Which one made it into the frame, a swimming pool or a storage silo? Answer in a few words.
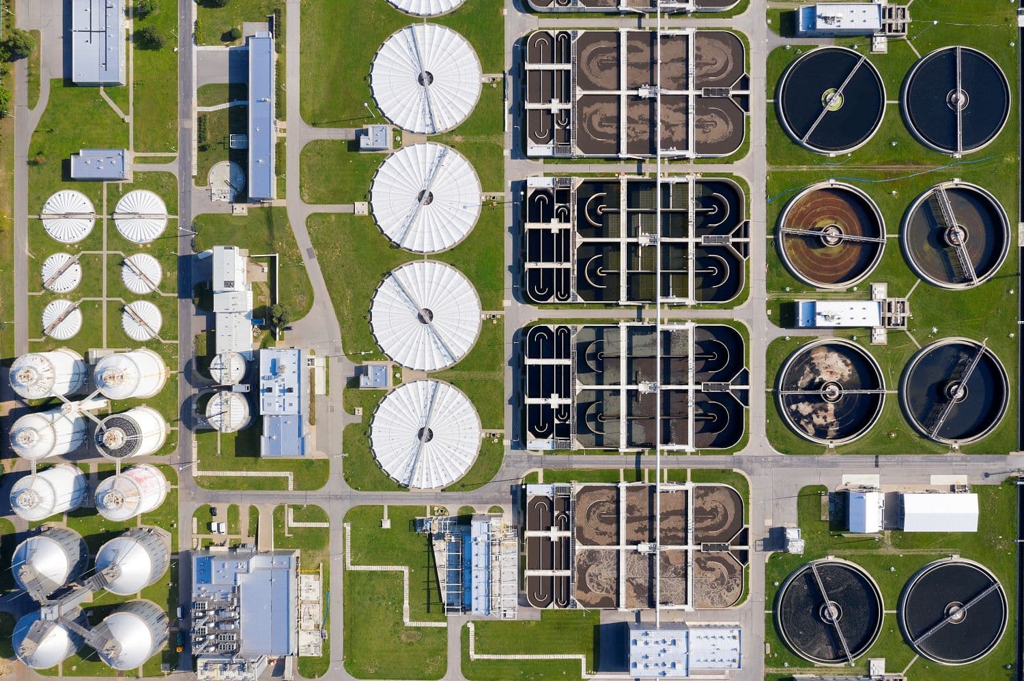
storage silo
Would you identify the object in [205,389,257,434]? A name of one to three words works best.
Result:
storage tank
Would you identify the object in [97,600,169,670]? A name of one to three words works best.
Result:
silo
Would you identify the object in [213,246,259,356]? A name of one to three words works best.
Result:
building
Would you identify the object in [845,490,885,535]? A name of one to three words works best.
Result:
shed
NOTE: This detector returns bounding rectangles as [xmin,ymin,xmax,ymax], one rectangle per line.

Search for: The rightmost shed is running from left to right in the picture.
[896,493,980,532]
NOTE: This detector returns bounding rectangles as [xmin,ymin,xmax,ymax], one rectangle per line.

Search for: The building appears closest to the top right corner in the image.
[795,2,882,37]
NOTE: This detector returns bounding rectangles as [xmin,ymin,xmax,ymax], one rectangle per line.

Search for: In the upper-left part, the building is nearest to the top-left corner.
[72,0,126,87]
